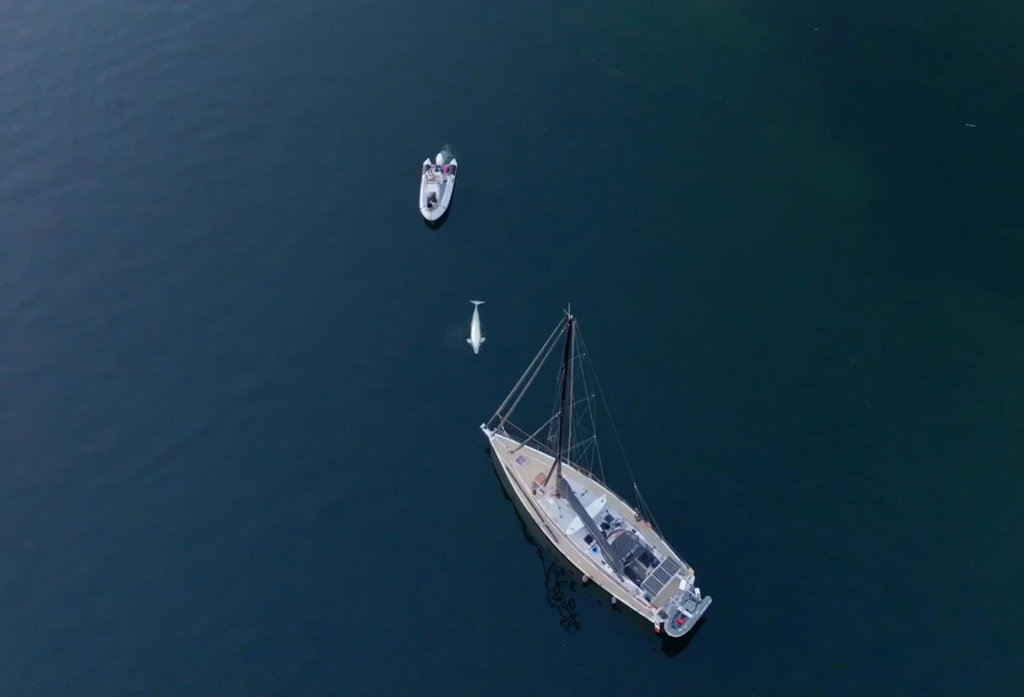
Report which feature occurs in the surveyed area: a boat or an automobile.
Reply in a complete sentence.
The image shows a boat.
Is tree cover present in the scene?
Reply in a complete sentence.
No, the picture contains no tree cover.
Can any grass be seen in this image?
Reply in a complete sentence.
No, no grass is visible.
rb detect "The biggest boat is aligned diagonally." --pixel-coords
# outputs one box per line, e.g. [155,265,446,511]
[477,307,701,628]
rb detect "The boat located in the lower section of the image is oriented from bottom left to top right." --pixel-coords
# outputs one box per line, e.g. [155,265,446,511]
[663,590,714,636]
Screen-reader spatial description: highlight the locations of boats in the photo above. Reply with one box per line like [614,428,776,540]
[663,590,714,636]
[420,152,457,220]
[477,307,701,628]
